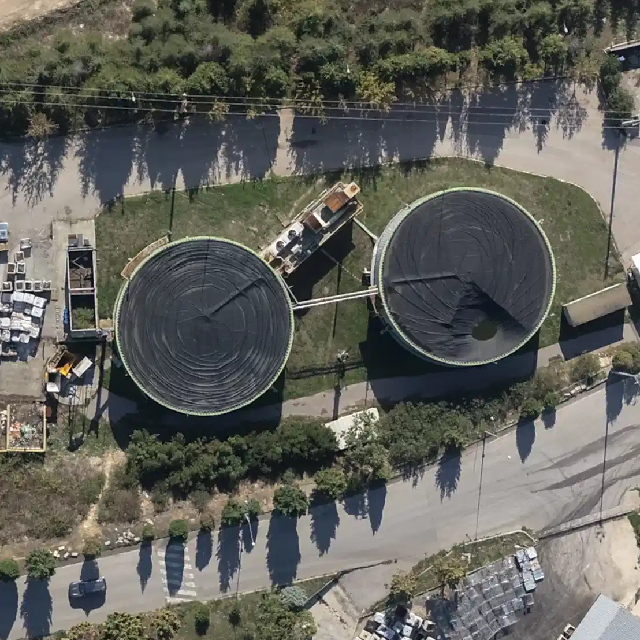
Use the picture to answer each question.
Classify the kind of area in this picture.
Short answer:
industrial area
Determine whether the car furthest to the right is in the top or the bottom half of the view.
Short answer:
bottom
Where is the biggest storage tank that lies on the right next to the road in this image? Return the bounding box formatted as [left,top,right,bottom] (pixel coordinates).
[371,189,555,366]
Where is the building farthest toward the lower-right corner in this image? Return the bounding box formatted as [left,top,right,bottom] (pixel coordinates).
[563,593,640,640]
